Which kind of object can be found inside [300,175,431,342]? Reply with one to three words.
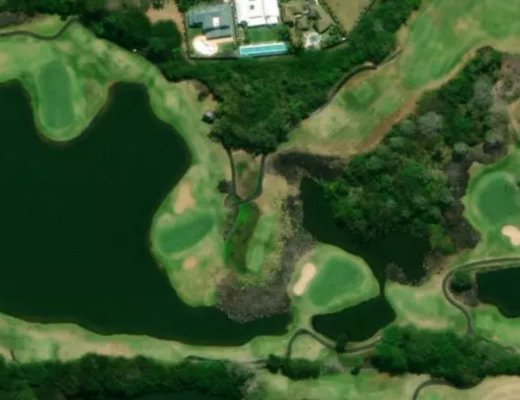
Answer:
pond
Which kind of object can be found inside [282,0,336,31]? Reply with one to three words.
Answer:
house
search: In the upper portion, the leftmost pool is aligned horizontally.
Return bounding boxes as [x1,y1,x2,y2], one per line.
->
[239,42,286,56]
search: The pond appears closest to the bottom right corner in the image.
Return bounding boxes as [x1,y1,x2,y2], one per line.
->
[475,266,520,318]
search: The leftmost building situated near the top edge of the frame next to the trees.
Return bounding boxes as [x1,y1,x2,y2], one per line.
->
[186,3,235,39]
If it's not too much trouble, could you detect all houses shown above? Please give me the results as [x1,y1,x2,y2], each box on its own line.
[236,0,280,28]
[282,0,336,31]
[186,3,235,39]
